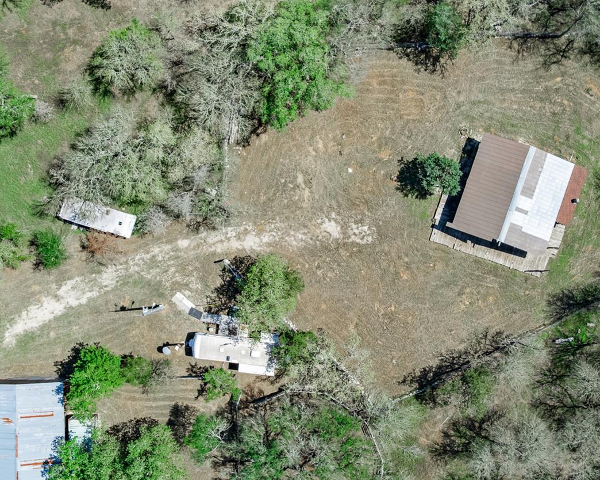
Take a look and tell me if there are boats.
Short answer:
No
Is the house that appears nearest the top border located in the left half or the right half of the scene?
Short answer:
right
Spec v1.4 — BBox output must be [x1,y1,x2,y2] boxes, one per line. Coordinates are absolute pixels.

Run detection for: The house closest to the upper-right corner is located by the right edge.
[446,135,587,256]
